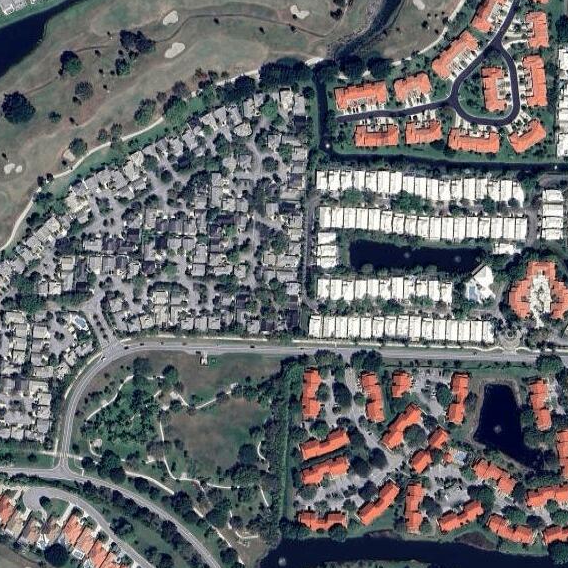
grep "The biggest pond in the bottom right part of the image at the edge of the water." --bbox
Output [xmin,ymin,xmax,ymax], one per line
[472,383,558,470]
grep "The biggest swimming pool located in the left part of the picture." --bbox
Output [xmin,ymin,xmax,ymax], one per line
[73,313,90,332]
